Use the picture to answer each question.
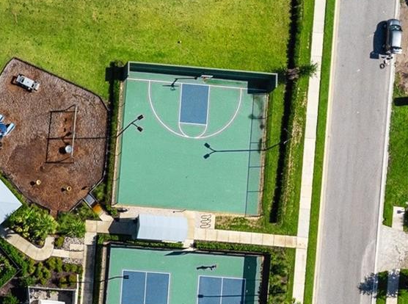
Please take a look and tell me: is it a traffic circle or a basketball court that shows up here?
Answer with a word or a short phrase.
basketball court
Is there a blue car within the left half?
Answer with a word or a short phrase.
No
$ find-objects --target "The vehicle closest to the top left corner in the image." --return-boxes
[17,71,41,89]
